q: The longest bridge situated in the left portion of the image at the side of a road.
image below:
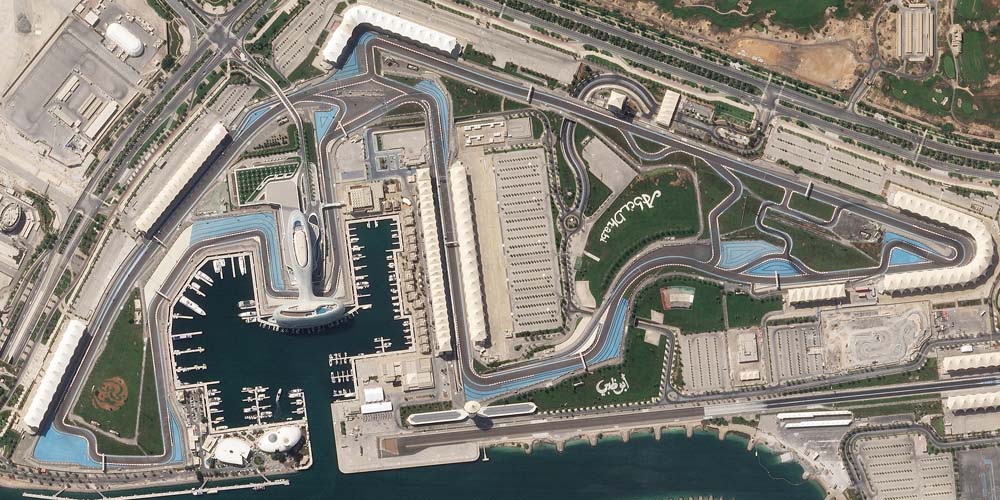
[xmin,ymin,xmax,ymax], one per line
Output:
[272,81,307,158]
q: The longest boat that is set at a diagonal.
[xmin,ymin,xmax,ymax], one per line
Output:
[180,296,205,313]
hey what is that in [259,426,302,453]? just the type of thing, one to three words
building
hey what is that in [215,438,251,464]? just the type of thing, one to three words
building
